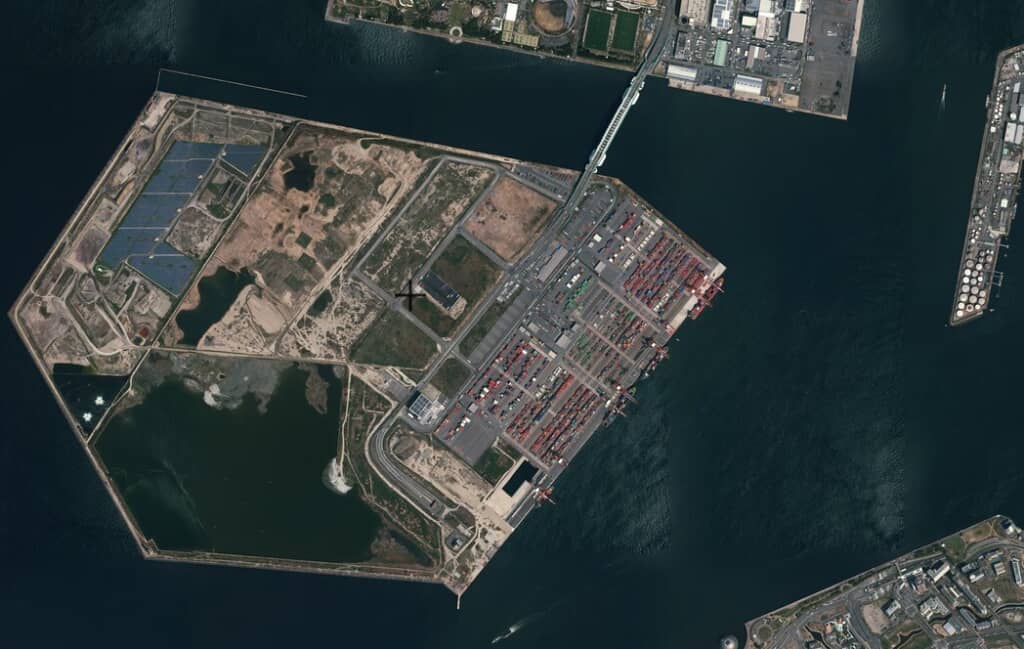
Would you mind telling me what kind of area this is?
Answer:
port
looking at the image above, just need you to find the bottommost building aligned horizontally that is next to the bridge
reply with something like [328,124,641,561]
[667,64,697,80]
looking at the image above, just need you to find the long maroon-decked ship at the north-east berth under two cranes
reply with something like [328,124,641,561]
[690,277,724,319]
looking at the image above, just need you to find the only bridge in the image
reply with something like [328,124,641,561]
[522,0,676,256]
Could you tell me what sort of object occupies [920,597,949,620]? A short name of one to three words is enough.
building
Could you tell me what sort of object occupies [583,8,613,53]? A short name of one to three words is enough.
soccer field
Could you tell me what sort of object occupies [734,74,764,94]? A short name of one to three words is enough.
building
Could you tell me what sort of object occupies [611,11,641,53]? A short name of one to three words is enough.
soccer field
